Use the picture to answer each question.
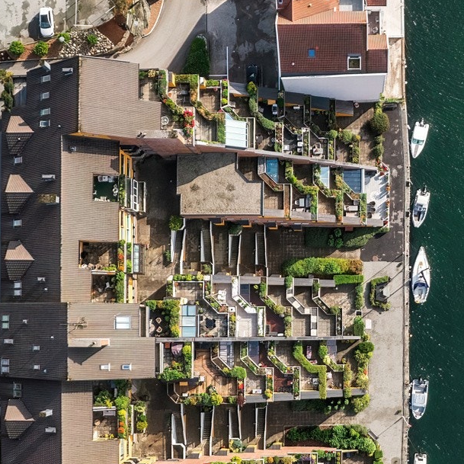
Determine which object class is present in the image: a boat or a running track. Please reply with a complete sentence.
Looking from above, you can make out a boat.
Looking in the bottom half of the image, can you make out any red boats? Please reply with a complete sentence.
No, no red boat can be made out in the bottom half of the image.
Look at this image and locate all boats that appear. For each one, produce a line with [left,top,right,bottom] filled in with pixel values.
[413,184,431,227]
[412,245,429,303]
[410,117,429,158]
[410,375,427,420]
[413,447,426,464]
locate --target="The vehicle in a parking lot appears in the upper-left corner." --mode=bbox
[38,5,56,40]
